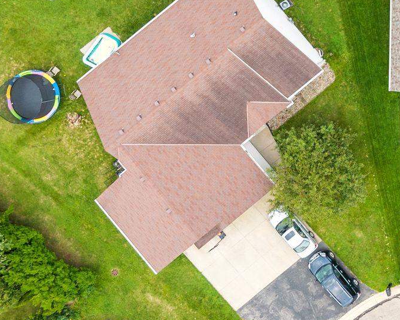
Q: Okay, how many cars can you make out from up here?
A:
2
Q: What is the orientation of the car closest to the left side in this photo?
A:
at an angle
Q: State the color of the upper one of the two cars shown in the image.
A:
white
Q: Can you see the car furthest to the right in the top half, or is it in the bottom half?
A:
bottom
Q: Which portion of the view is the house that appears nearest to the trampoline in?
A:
center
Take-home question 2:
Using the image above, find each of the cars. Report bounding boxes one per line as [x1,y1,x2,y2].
[268,205,319,264]
[306,252,362,318]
